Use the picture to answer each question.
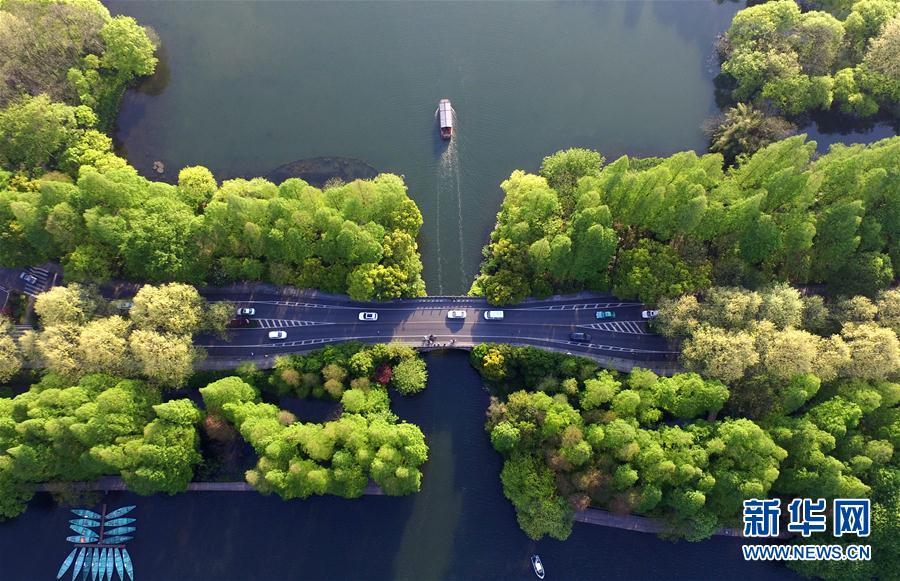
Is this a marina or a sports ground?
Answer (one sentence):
What you see here is a marina.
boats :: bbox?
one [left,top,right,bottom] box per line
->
[66,536,98,543]
[56,548,76,578]
[104,518,135,527]
[105,548,112,581]
[69,526,99,537]
[83,548,91,581]
[439,98,451,141]
[103,527,136,534]
[91,548,98,581]
[98,548,105,581]
[114,548,123,581]
[102,535,134,544]
[104,505,136,519]
[69,509,101,519]
[69,519,100,527]
[123,548,133,581]
[72,548,85,581]
[530,556,544,580]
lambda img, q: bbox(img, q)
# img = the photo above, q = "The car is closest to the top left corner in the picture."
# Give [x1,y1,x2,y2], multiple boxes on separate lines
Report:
[18,272,39,286]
